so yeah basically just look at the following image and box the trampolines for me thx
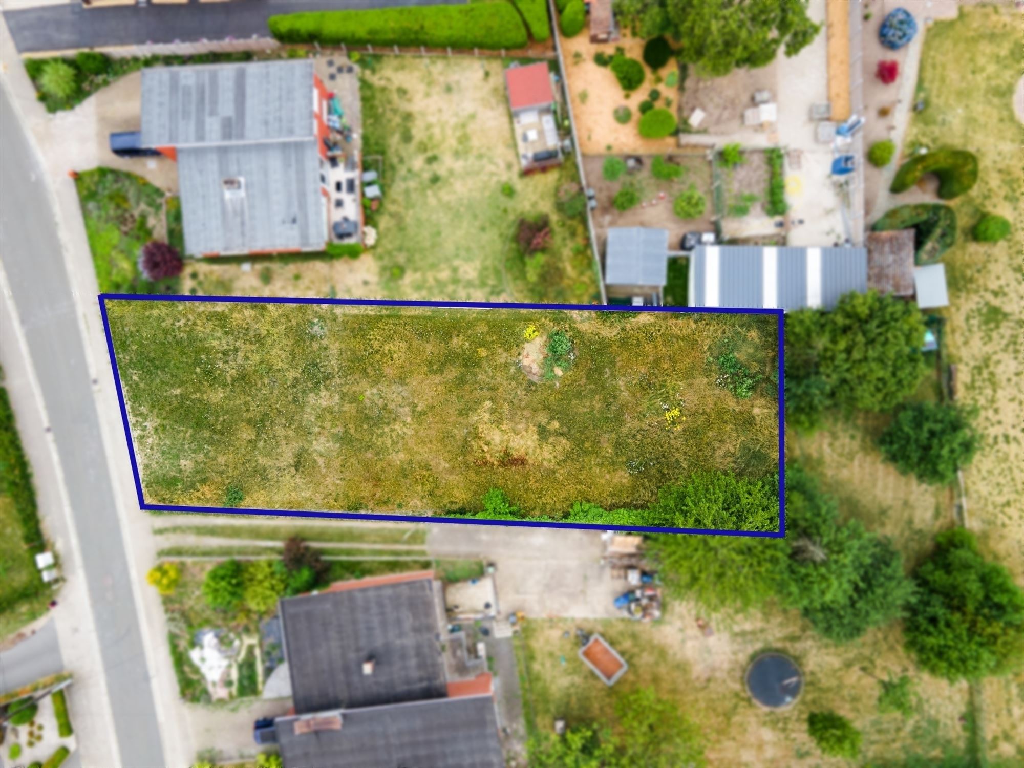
[744,651,802,709]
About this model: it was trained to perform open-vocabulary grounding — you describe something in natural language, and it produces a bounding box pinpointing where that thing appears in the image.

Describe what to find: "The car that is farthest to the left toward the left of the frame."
[110,130,167,160]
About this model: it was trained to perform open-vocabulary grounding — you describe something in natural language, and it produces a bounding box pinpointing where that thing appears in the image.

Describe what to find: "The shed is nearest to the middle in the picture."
[604,226,668,285]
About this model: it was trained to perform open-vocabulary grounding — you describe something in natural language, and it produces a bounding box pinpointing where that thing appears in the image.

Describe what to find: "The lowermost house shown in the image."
[275,571,500,768]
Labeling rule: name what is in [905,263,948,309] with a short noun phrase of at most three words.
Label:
shed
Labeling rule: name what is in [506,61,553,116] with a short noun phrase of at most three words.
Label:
shed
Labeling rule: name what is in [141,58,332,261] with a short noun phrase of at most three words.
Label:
house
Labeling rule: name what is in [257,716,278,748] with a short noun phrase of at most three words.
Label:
car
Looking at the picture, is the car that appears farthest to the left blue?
Yes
